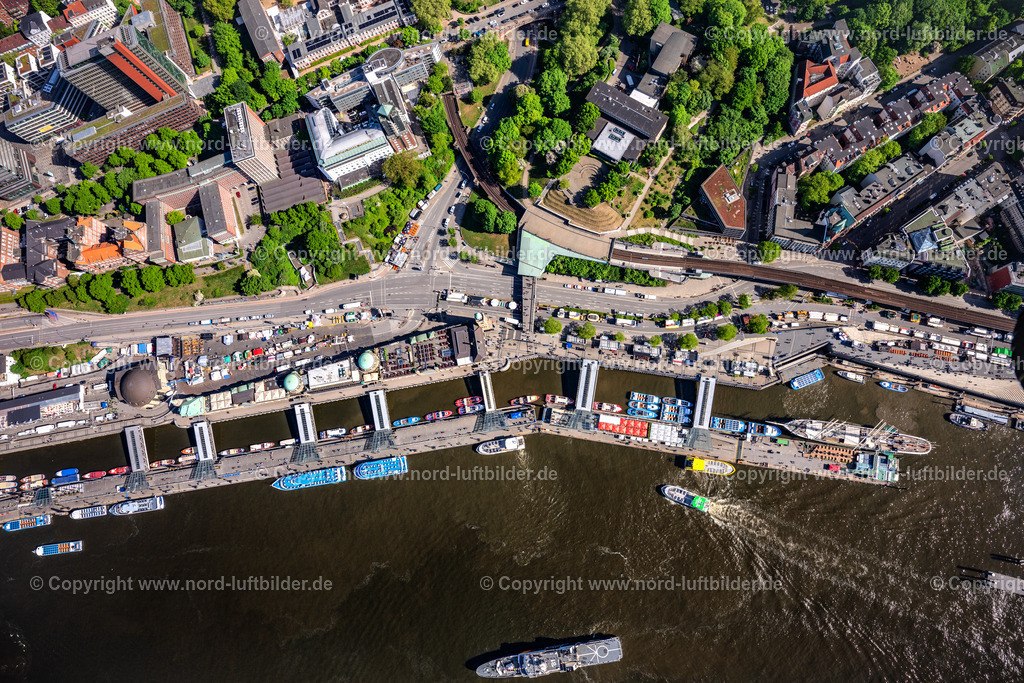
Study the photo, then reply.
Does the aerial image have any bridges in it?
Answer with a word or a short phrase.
Yes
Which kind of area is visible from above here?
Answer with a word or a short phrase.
port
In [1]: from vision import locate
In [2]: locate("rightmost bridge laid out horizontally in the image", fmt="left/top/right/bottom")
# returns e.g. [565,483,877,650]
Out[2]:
[611,247,1024,335]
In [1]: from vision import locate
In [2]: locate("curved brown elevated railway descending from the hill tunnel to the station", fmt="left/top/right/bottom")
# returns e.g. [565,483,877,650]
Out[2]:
[439,91,518,220]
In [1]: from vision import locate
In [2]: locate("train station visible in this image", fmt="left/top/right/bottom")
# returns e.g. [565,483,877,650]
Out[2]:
[517,205,615,277]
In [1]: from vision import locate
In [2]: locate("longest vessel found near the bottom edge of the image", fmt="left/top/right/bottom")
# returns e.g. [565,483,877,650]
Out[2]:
[476,640,624,678]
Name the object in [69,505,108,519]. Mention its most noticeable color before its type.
white boat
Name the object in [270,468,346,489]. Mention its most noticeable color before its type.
blue ship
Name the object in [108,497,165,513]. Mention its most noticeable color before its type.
white boat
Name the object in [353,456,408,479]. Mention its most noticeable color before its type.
blue ship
